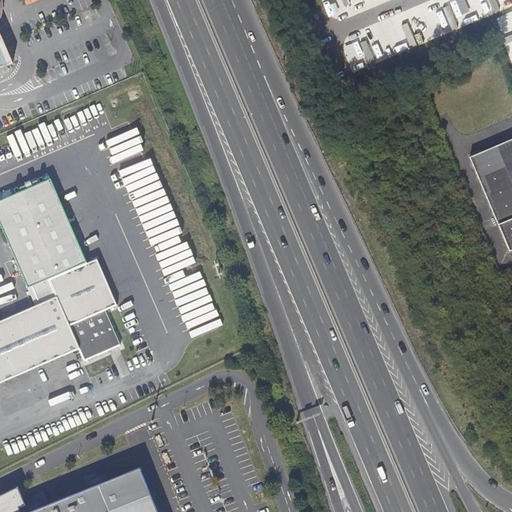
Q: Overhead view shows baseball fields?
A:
No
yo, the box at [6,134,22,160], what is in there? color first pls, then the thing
white vehicle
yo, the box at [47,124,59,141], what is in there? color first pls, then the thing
white vehicle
